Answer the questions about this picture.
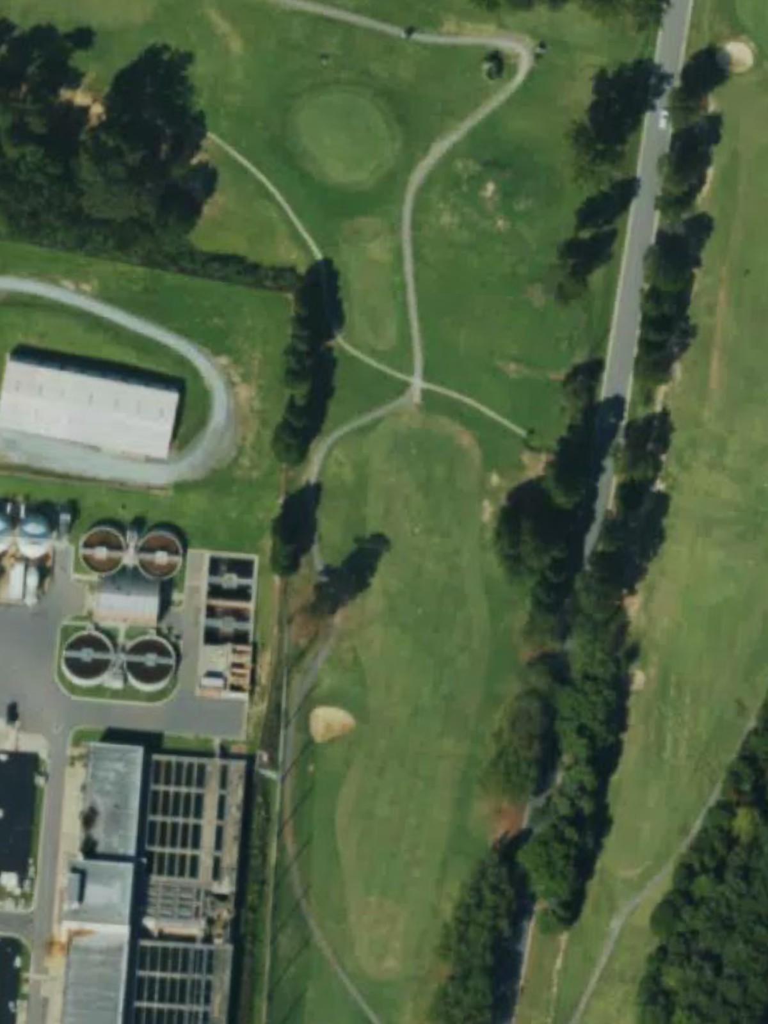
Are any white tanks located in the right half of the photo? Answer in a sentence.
No, looking in the right half of the photo, there is no white tank.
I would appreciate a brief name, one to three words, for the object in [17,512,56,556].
storage tank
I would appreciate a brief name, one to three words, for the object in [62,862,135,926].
building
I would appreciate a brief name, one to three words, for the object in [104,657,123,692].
building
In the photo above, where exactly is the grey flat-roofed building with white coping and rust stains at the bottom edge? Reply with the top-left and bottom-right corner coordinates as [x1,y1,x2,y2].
[59,922,129,1024]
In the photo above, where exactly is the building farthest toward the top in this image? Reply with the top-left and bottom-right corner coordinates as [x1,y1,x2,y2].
[0,360,179,465]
